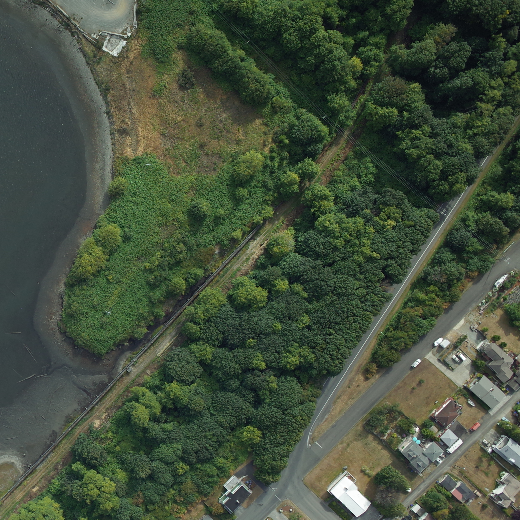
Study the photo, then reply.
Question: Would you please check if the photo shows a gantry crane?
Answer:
No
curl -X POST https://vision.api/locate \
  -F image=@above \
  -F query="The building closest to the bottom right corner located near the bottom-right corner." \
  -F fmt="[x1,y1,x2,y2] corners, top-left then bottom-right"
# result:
[491,473,520,501]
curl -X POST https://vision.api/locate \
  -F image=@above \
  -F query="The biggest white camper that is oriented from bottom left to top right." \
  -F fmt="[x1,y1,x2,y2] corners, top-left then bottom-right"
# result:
[447,439,466,454]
